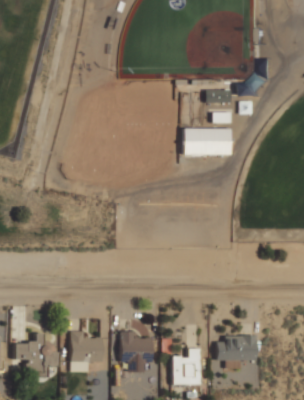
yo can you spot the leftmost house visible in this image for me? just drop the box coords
[16,332,59,378]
